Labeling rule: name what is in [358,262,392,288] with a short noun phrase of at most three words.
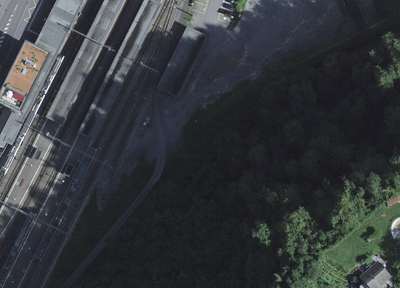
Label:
house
